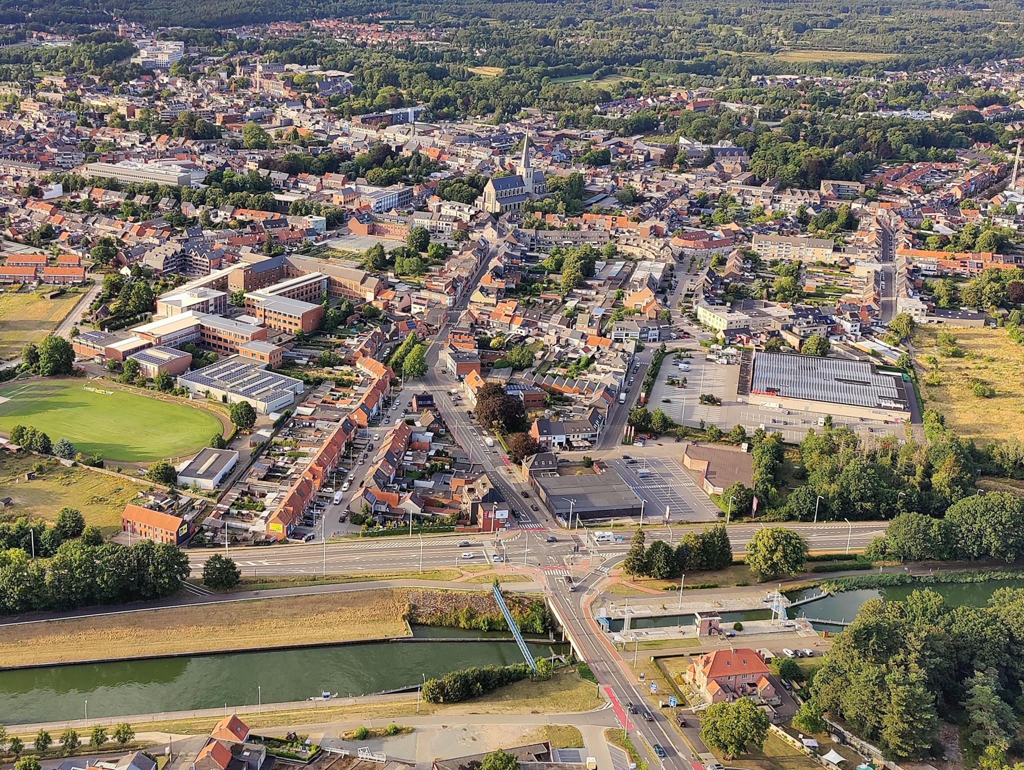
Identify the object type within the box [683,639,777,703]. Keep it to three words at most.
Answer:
house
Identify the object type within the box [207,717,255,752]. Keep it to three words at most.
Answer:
house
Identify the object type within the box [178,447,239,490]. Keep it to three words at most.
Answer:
building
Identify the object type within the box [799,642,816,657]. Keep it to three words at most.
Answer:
vehicle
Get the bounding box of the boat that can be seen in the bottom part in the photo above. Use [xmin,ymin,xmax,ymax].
[308,688,340,701]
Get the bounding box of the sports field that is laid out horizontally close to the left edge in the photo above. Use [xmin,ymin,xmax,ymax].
[0,379,223,461]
